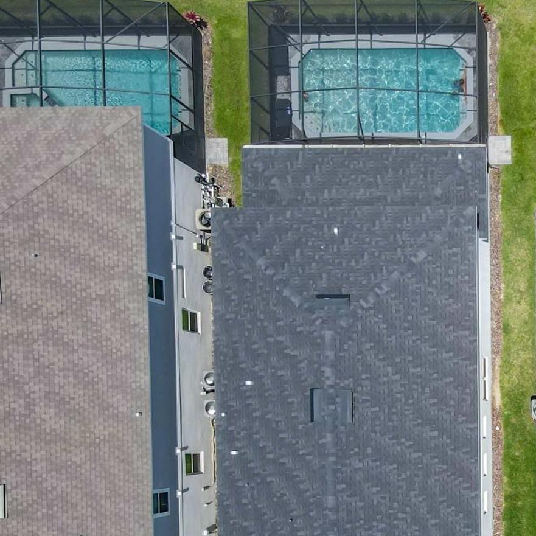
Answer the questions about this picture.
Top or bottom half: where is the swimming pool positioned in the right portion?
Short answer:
top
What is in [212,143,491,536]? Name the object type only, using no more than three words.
house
